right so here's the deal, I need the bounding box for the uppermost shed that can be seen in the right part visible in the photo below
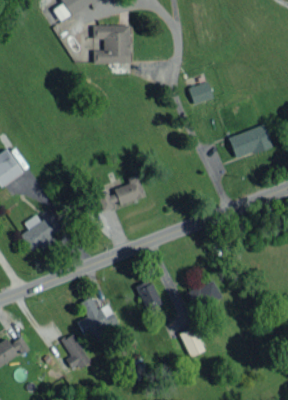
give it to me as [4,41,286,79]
[189,82,214,104]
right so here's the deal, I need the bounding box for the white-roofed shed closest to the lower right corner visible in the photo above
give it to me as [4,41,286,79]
[180,328,206,358]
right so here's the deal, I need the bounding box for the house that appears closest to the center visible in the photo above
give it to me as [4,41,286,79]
[108,181,144,207]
